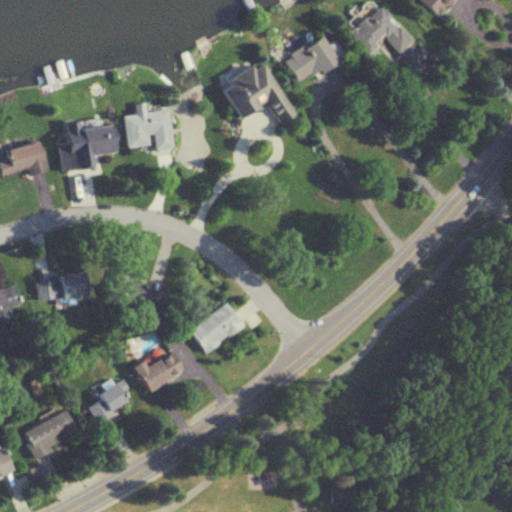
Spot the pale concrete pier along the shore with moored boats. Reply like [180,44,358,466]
[40,70,104,94]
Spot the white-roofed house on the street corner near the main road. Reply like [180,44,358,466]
[194,304,248,353]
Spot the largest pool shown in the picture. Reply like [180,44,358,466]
[127,334,159,360]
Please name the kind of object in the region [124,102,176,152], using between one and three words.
house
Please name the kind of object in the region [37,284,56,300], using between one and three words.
building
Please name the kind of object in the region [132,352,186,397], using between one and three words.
house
